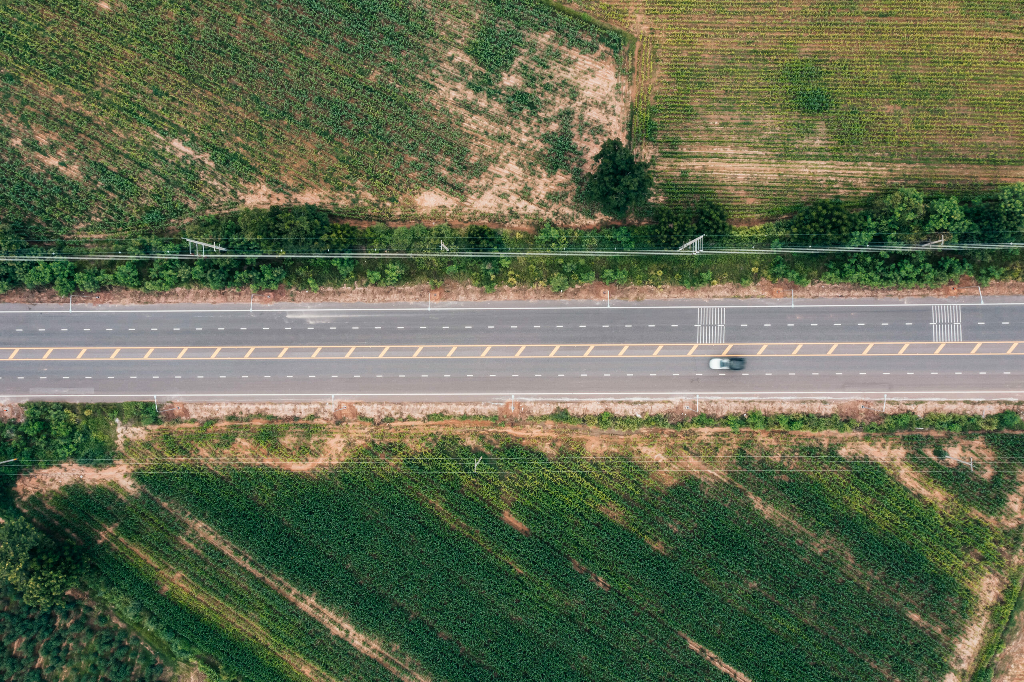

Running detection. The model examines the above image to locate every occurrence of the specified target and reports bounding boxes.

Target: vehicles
[709,357,746,370]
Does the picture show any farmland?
Yes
